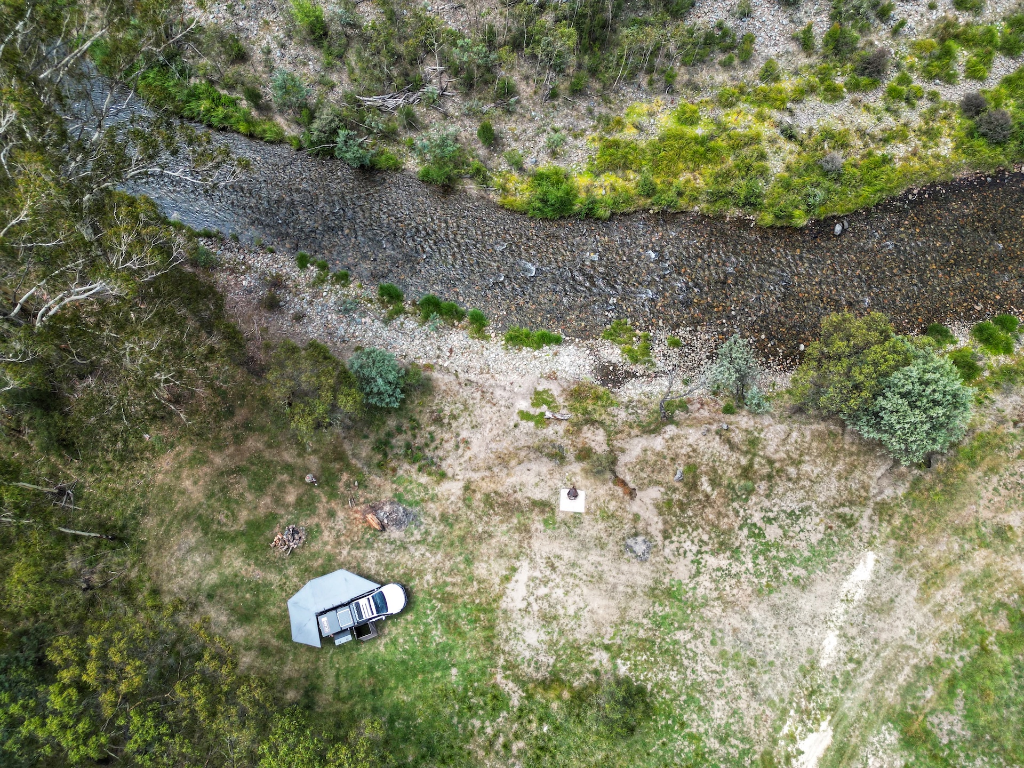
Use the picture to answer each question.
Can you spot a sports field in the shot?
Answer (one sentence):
No, no sports field is visible in the view.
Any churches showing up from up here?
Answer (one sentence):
No, I can't see a single church in this photo.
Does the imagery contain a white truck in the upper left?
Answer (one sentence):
No, no white truck can be made out in the upper left.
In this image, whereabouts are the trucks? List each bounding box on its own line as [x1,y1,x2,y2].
[288,568,409,651]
